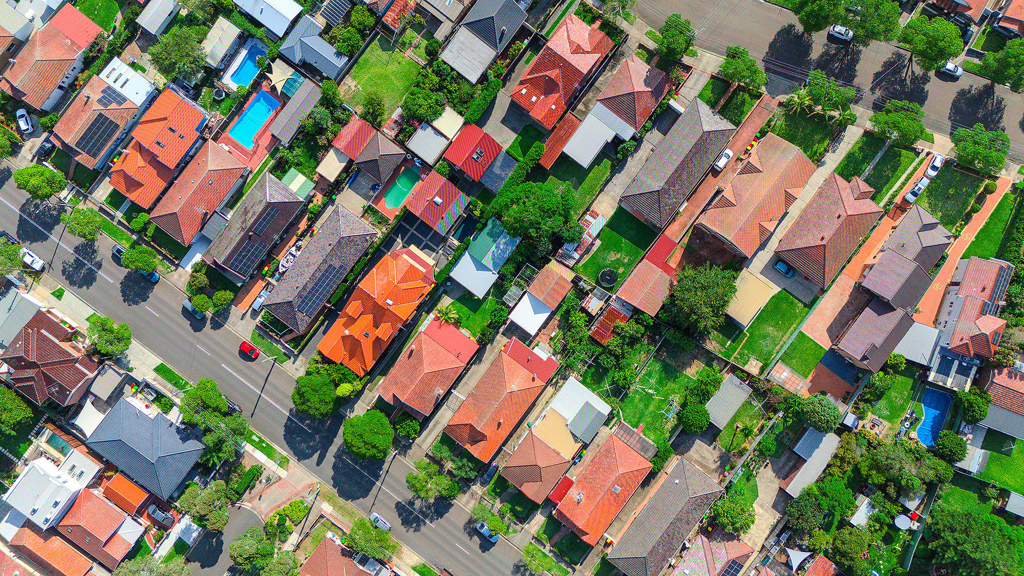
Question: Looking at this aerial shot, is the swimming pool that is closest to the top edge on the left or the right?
left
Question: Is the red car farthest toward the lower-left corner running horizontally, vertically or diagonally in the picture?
diagonally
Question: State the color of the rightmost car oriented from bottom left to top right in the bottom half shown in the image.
blue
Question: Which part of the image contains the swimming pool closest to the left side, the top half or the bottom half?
bottom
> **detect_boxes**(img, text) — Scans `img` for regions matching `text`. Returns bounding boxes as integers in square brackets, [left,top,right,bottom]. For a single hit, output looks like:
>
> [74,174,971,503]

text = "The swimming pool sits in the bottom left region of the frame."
[41,430,76,460]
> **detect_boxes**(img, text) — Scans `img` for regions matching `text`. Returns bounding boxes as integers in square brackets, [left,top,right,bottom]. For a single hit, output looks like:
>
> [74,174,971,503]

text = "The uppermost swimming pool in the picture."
[228,43,269,90]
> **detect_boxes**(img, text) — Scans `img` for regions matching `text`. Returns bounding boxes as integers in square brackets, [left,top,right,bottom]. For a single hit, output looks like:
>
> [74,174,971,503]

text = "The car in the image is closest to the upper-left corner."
[17,107,35,137]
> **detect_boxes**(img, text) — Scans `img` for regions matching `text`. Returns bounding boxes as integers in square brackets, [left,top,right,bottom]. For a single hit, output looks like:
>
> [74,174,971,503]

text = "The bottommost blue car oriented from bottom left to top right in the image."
[478,459,503,487]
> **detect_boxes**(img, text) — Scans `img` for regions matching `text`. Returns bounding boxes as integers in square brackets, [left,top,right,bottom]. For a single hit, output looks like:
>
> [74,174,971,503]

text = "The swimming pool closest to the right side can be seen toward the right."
[915,386,954,447]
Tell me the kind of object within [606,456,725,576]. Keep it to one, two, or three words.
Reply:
house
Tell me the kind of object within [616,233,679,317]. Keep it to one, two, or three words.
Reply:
shed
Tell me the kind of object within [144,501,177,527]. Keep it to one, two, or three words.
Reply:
truck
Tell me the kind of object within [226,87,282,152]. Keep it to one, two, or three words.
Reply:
swimming pool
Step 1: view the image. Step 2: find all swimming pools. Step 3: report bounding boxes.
[226,87,282,152]
[228,43,269,90]
[448,209,481,245]
[41,430,76,460]
[382,162,422,211]
[915,386,954,447]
